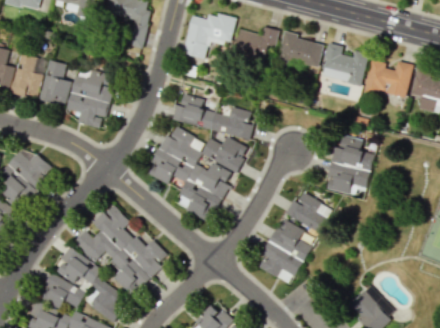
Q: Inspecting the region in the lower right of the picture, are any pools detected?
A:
Yes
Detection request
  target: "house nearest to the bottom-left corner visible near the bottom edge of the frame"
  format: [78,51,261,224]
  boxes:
[26,306,60,328]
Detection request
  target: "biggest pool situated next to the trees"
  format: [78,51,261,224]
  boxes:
[378,275,410,306]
